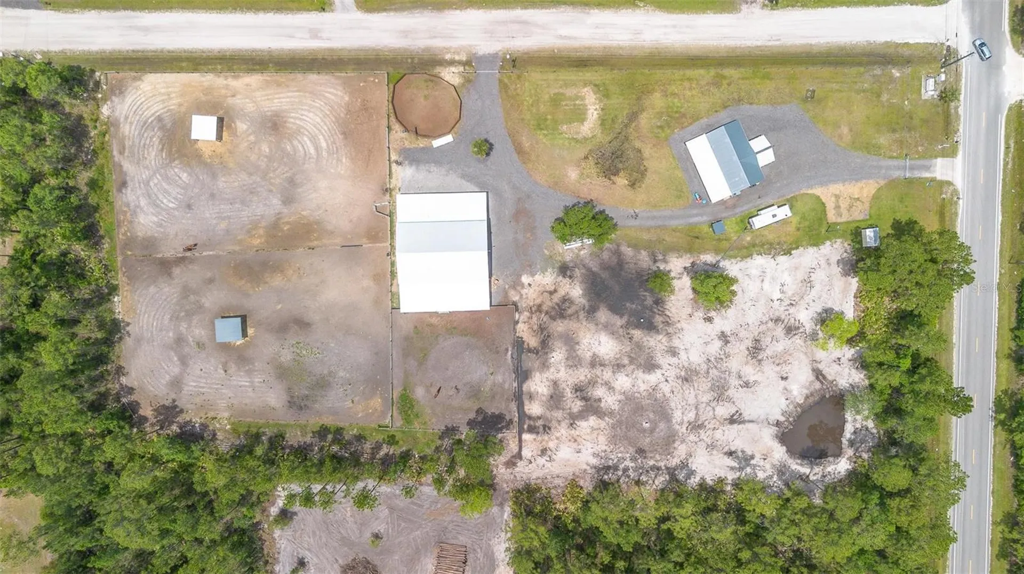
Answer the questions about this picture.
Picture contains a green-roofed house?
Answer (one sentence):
No, I find no green-roofed house anywhere in the image.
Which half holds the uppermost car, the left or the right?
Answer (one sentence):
The uppermost car appears in the right half of the scene.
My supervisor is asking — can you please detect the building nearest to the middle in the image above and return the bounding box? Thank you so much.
[396,192,491,317]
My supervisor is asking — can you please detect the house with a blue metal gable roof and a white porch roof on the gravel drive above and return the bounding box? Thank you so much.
[683,119,764,203]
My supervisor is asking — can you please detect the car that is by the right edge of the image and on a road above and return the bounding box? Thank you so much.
[971,37,993,62]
